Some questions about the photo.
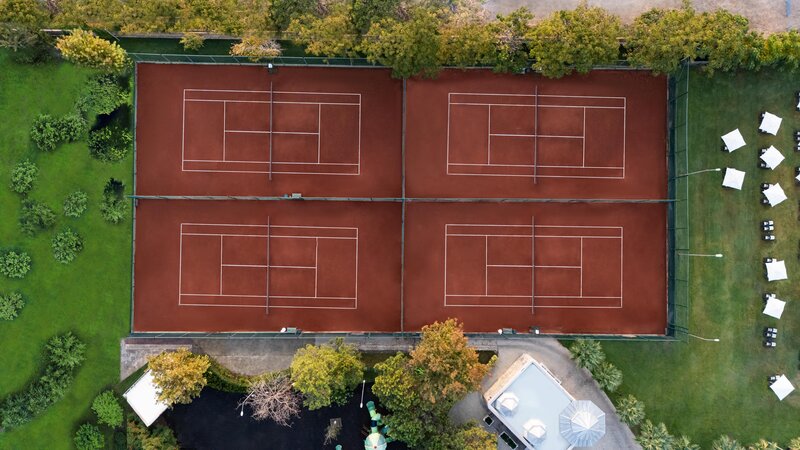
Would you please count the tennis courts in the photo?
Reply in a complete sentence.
The count of tennis courts comes to 4.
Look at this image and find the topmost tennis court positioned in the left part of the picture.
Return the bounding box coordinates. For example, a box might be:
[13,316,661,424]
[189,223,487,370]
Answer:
[136,64,403,198]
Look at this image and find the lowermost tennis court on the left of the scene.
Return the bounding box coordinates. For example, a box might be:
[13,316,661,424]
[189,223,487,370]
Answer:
[134,198,402,332]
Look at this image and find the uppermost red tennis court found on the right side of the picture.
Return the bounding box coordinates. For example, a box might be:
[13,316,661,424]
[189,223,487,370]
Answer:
[405,66,667,200]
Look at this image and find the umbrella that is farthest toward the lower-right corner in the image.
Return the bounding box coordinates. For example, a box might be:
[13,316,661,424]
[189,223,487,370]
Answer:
[768,375,795,400]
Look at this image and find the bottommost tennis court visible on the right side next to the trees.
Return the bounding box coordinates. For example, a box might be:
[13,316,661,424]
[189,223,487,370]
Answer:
[403,201,667,334]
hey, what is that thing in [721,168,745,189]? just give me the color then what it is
white umbrella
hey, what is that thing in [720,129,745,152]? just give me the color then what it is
white umbrella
